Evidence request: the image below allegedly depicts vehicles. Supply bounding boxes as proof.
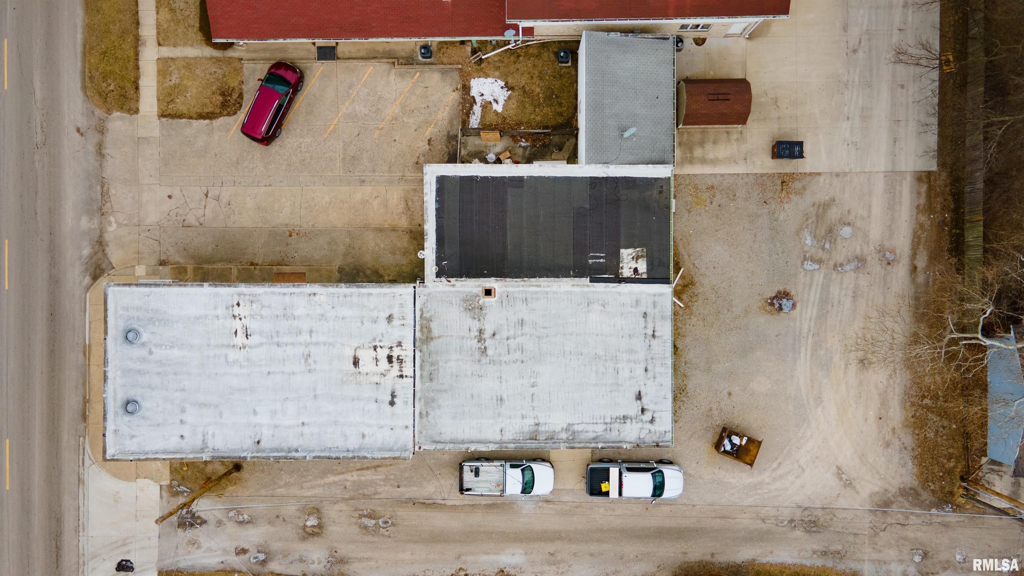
[240,59,305,148]
[457,458,554,500]
[583,459,684,503]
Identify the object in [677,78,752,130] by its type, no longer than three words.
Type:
shed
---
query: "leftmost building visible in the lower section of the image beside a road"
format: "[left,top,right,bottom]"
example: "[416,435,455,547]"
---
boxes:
[102,279,421,461]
